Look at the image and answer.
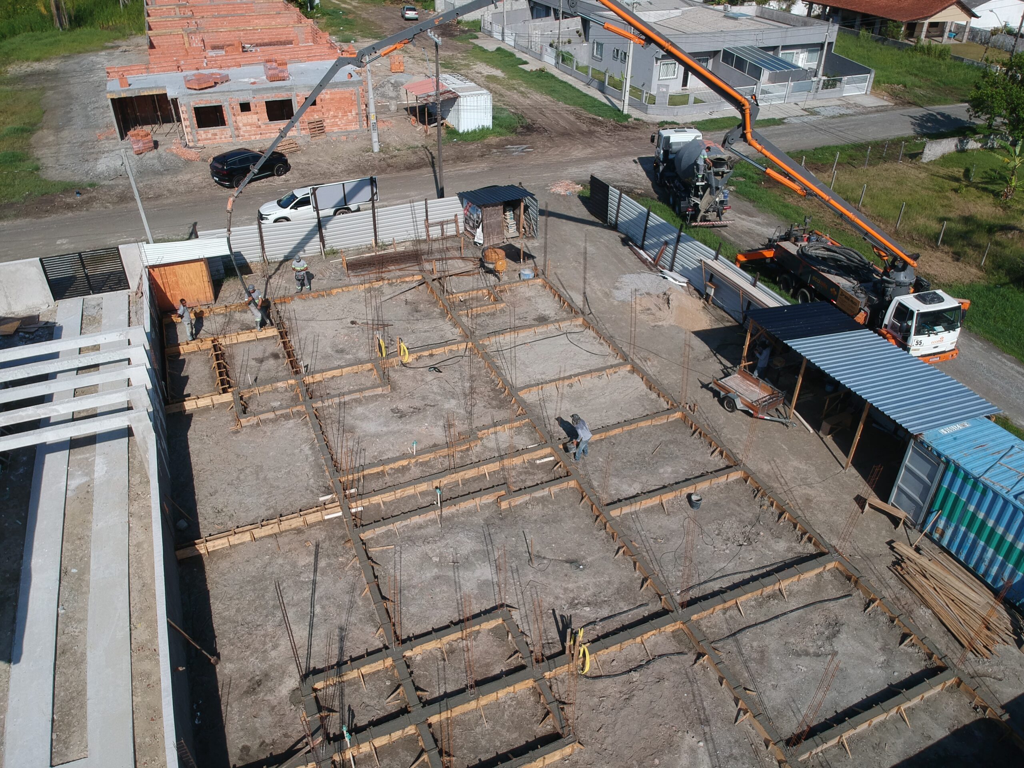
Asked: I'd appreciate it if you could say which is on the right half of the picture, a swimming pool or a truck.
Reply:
truck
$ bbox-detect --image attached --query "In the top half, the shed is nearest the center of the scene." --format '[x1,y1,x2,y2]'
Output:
[458,184,534,246]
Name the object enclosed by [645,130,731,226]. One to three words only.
truck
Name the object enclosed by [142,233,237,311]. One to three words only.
shed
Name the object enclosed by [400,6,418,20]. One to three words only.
car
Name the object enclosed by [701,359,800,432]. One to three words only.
trailer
